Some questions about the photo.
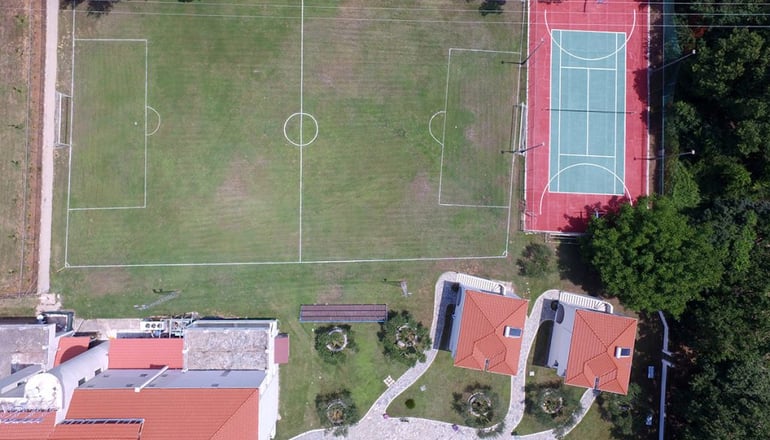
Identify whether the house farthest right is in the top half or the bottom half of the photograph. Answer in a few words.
bottom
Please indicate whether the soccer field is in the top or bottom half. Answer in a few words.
top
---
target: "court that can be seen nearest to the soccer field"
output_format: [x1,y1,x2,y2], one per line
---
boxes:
[526,0,652,238]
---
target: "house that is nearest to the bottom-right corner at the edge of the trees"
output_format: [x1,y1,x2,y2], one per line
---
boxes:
[549,290,639,394]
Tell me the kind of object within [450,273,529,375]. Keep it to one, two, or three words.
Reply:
house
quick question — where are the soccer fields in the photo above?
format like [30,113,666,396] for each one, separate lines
[65,0,526,266]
